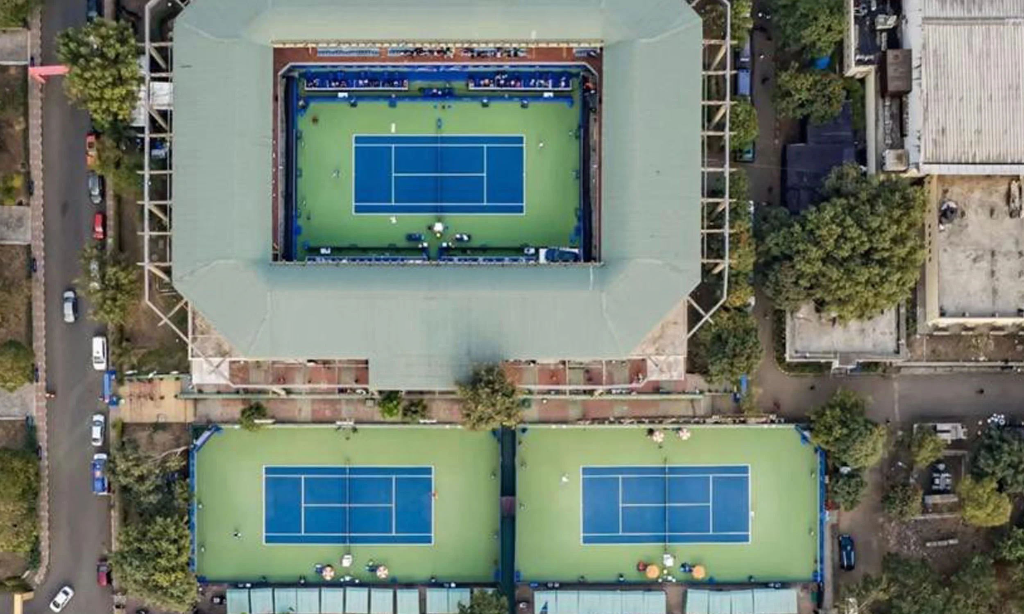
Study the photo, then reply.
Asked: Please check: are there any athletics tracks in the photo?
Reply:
No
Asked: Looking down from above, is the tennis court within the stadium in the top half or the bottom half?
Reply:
top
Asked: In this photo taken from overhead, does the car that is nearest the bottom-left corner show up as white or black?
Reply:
white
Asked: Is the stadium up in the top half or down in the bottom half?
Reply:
top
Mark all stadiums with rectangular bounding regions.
[137,0,738,395]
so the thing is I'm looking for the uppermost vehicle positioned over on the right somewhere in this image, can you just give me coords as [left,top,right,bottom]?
[737,37,752,68]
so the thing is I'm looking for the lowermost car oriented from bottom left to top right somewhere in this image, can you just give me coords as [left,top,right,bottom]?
[49,584,77,614]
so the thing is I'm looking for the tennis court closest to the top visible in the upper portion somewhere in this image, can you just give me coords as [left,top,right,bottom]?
[287,71,590,263]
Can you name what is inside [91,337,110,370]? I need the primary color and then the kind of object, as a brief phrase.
white car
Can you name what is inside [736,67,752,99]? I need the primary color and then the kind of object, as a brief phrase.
blue vehicle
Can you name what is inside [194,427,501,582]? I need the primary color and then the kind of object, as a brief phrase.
green tennis court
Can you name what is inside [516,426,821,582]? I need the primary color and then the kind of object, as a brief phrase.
green tennis court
